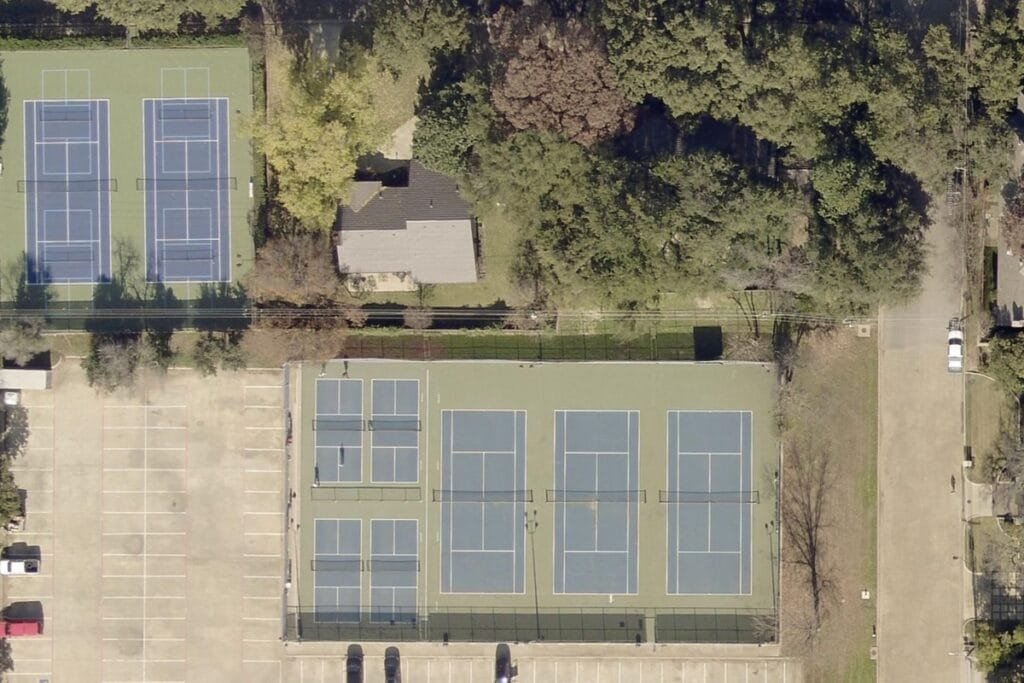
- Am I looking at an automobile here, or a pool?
automobile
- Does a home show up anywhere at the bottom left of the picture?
No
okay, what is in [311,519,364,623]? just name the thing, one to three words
sports court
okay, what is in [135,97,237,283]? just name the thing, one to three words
tennis court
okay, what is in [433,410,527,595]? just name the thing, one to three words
tennis court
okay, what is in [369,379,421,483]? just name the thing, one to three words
sports court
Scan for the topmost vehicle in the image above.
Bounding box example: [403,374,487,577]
[947,330,966,373]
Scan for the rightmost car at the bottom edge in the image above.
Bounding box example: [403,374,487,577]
[494,653,518,683]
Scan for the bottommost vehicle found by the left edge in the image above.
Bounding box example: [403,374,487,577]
[3,619,42,637]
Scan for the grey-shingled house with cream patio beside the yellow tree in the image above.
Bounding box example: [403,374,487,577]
[332,158,476,283]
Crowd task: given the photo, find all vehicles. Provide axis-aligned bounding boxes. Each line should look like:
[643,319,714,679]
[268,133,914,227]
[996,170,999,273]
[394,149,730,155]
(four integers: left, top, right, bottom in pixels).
[494,653,518,683]
[384,654,401,683]
[947,330,966,373]
[3,619,42,637]
[0,558,41,576]
[3,390,16,407]
[345,654,363,683]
